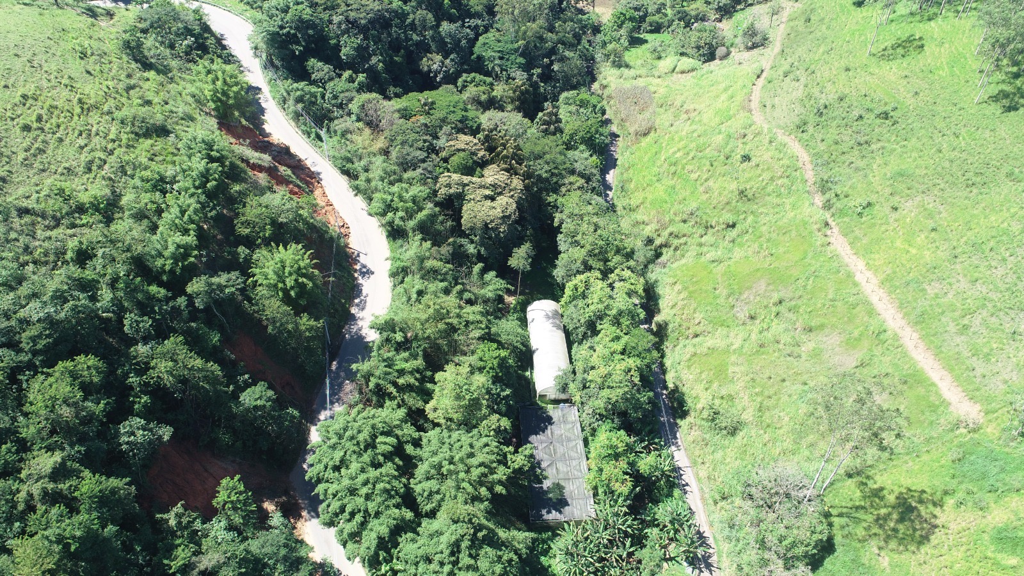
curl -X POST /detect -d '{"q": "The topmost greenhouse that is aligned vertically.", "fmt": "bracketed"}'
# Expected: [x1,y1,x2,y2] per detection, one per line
[527,304,572,400]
